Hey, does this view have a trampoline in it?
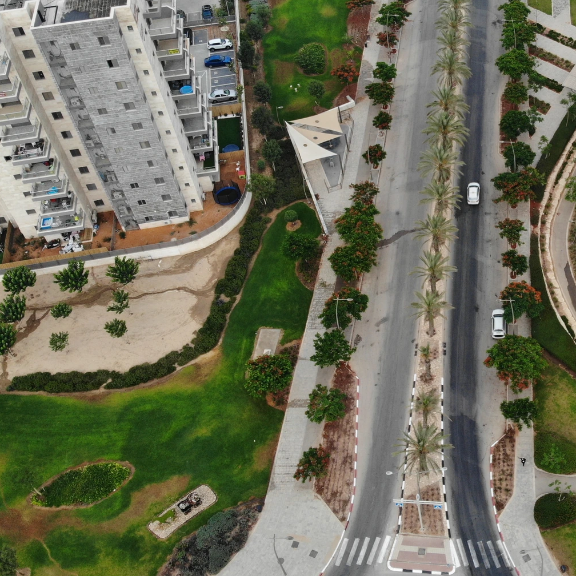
Yes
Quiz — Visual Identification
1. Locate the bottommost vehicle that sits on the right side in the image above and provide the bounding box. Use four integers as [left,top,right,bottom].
[490,310,507,339]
